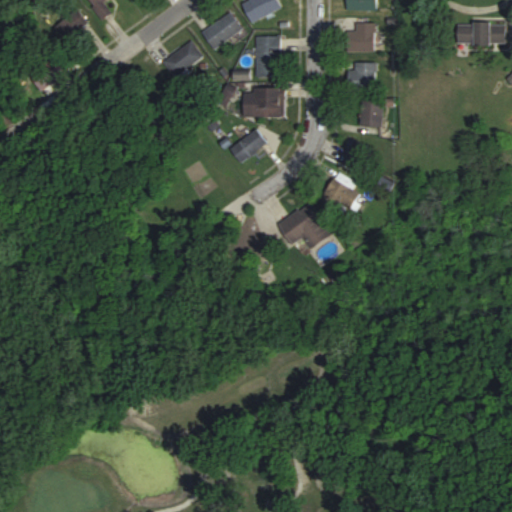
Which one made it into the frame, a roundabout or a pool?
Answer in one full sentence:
The image shows a pool.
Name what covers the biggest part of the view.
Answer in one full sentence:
Most of the picture is covered by trees.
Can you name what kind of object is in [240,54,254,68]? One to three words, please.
swimming pool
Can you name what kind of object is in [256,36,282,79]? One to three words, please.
house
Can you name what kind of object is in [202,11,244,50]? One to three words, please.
house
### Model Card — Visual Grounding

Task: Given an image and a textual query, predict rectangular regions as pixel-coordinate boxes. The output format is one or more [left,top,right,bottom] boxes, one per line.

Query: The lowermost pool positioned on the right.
[310,234,346,267]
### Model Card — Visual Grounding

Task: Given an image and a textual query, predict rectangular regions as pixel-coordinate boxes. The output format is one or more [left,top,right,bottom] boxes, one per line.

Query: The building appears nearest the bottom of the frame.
[276,206,332,254]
